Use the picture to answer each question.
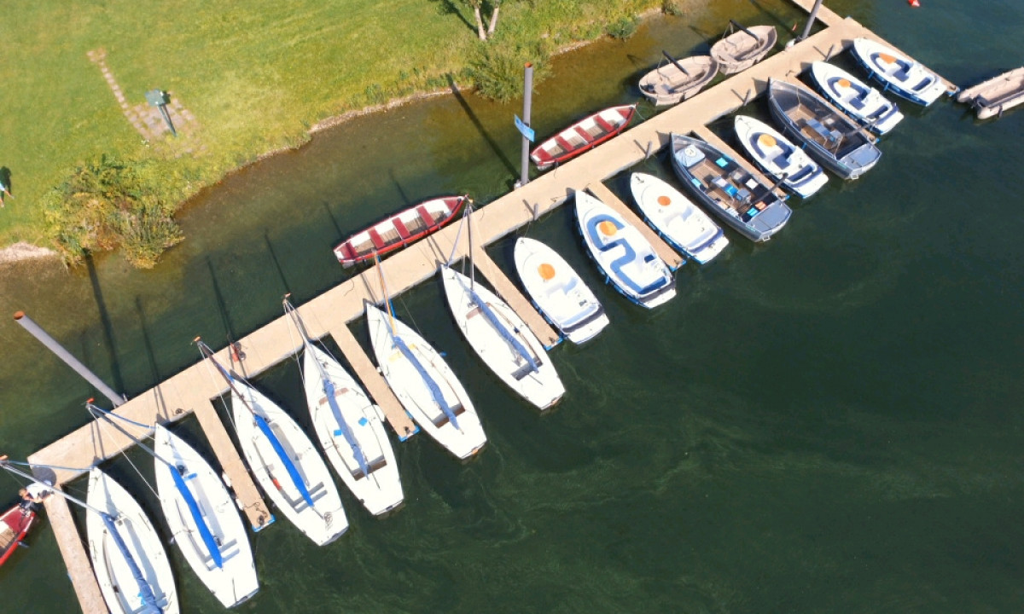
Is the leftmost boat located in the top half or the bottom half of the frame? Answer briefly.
bottom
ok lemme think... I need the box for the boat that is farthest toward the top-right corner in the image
[948,65,1024,122]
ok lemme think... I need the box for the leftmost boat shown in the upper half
[333,194,479,271]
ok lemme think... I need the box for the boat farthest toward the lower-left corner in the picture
[0,498,46,575]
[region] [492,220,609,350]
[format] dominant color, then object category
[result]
white boat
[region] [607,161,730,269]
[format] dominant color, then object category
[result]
white boat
